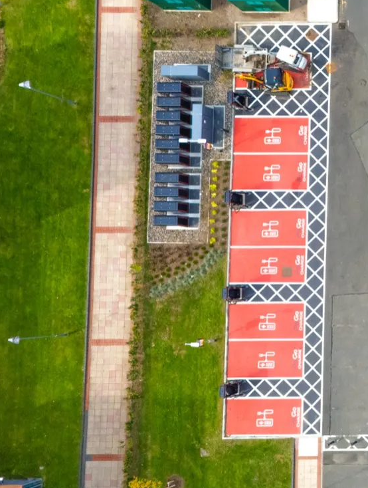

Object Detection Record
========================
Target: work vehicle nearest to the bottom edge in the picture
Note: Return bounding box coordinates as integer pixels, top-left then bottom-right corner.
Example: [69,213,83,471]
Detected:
[239,70,300,99]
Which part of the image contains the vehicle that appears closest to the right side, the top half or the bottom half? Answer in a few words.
top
